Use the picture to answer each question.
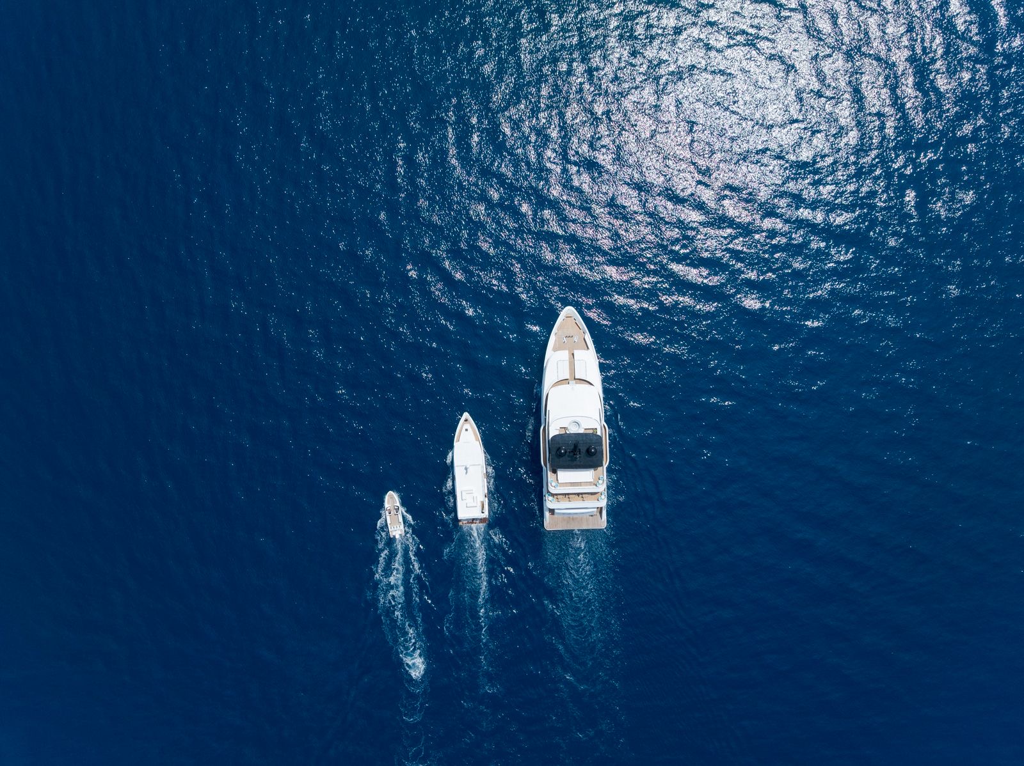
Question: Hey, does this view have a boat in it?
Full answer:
Yes, looking at the shot, I can spot a boat.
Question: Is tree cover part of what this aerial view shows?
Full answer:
No, there's no tree cover in this view.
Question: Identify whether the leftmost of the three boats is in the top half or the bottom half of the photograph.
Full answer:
The leftmost of the three boats is in the bottom half of the image.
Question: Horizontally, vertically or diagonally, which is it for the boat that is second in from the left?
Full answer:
In this picture, the boat that is second in from the left is oriented vertically.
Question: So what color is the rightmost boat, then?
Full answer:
The rightmost boat is white.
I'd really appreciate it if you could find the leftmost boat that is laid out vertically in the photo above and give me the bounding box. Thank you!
[385,490,405,539]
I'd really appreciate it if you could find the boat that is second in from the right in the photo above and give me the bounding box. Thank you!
[453,411,488,527]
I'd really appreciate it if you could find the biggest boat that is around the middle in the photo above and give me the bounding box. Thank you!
[540,305,610,530]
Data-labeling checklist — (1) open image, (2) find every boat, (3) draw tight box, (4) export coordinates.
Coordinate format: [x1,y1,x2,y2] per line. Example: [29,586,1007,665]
[540,305,610,530]
[385,490,405,539]
[453,411,488,527]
